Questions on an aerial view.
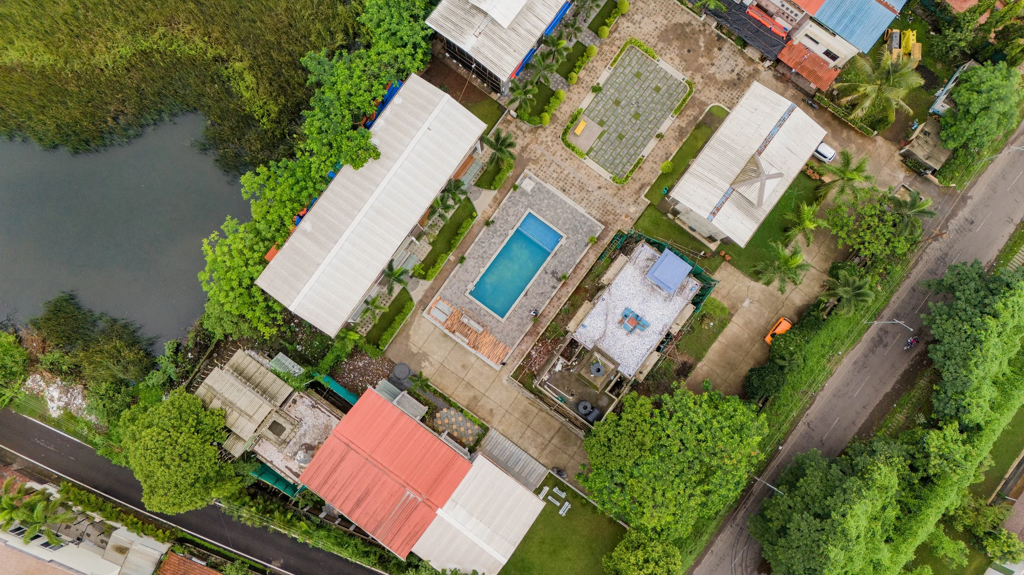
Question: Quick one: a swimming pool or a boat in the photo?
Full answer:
I can see a swimming pool in this picture.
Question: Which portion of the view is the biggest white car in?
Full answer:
The biggest white car appears toward the top right of the photo.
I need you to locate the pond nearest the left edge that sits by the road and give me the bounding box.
[0,11,361,366]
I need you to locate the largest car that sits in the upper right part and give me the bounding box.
[813,140,837,163]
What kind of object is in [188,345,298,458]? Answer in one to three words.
shed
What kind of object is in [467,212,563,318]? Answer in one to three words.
swimming pool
